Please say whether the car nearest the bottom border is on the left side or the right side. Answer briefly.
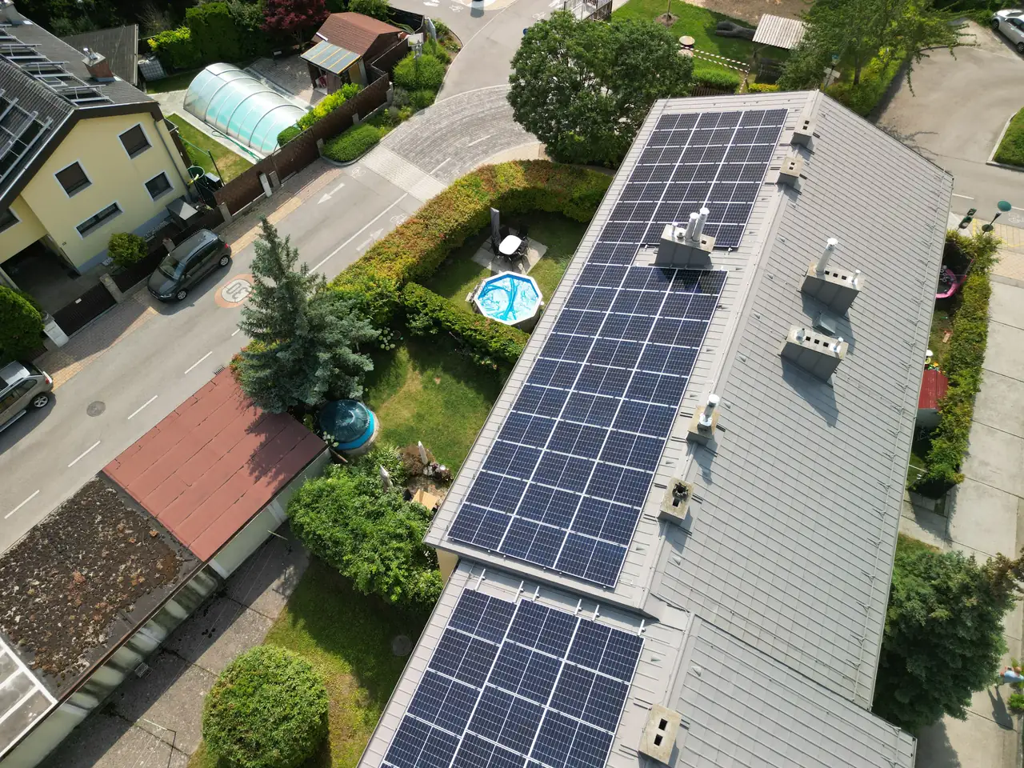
left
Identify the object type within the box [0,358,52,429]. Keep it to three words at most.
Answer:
car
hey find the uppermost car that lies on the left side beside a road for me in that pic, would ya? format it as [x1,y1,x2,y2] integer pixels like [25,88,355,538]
[142,231,233,305]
